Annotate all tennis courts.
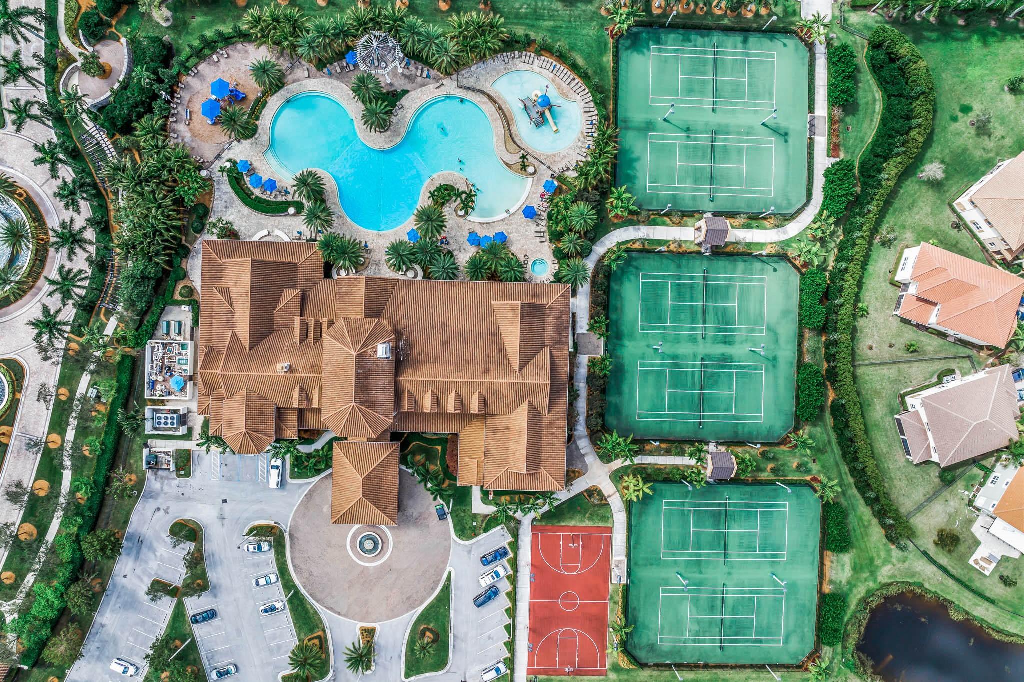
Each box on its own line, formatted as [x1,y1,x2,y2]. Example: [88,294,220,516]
[605,345,797,441]
[608,253,799,350]
[615,119,808,214]
[617,28,809,125]
[628,484,820,574]
[626,573,818,664]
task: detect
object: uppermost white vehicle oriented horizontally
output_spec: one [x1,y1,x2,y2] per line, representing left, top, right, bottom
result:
[243,542,270,554]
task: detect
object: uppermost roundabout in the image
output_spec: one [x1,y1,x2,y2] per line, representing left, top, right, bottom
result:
[0,168,61,321]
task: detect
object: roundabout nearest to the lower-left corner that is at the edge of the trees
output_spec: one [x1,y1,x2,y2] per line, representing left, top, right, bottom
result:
[0,350,30,504]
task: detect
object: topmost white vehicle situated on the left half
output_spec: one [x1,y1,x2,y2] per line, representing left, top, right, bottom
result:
[268,460,281,489]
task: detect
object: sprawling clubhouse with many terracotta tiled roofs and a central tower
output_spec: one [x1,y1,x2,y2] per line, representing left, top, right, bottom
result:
[198,240,571,526]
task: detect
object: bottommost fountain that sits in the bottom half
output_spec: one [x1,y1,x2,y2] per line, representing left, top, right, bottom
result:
[346,525,392,567]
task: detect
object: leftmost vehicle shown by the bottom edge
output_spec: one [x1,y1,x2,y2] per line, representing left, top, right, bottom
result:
[107,660,136,677]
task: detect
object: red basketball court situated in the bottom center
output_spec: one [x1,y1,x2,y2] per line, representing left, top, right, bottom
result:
[528,525,612,676]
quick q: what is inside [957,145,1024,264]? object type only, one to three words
house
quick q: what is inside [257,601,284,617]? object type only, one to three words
car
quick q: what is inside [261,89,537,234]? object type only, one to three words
swimming pool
